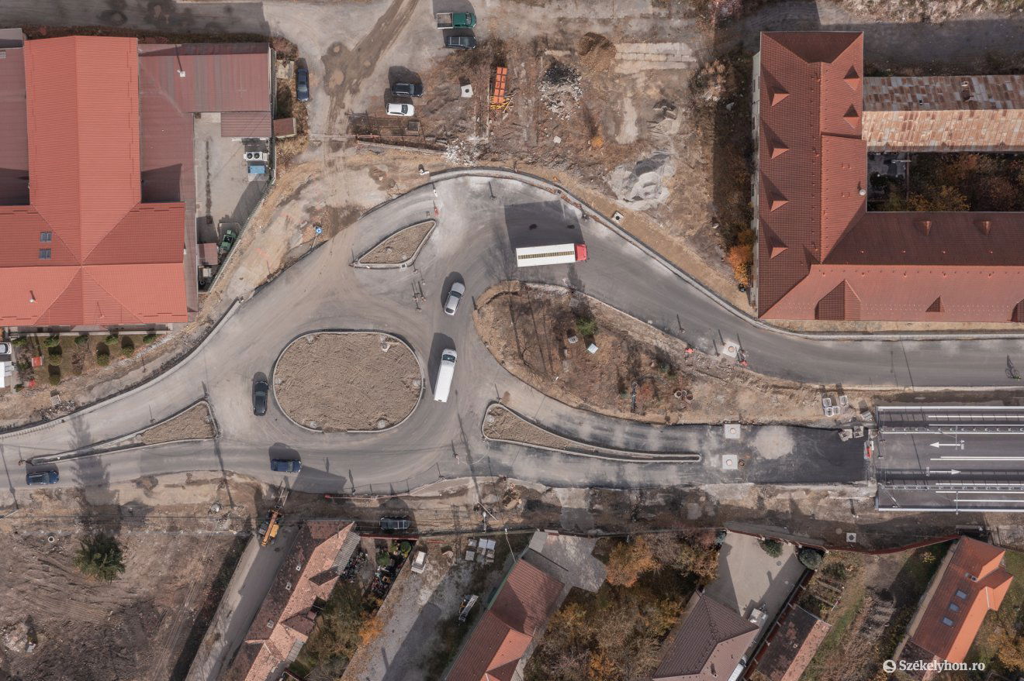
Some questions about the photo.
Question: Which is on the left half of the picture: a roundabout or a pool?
roundabout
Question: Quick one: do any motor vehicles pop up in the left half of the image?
Yes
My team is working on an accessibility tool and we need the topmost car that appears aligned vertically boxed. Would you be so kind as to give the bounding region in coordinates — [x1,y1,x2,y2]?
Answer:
[294,67,310,100]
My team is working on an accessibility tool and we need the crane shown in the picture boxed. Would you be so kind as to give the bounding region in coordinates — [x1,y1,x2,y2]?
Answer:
[253,481,292,547]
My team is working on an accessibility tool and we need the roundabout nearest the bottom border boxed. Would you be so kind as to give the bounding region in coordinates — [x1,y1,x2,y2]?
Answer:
[242,299,452,464]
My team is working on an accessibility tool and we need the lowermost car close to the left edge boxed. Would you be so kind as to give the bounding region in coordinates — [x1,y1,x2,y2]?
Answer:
[24,470,58,486]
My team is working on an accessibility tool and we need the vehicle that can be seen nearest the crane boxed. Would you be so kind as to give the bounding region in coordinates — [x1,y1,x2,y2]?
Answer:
[269,459,301,475]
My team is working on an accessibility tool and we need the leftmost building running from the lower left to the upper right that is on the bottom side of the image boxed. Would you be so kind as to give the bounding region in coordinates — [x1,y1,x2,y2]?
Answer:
[225,521,360,681]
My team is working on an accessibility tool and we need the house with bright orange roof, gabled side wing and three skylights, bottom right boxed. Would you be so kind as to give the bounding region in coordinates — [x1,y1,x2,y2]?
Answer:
[910,537,1013,663]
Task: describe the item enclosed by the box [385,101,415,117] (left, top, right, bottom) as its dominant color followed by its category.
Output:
white car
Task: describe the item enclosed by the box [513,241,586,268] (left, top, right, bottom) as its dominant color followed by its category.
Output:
white truck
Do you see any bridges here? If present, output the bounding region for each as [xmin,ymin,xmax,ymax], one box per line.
[876,406,1024,512]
